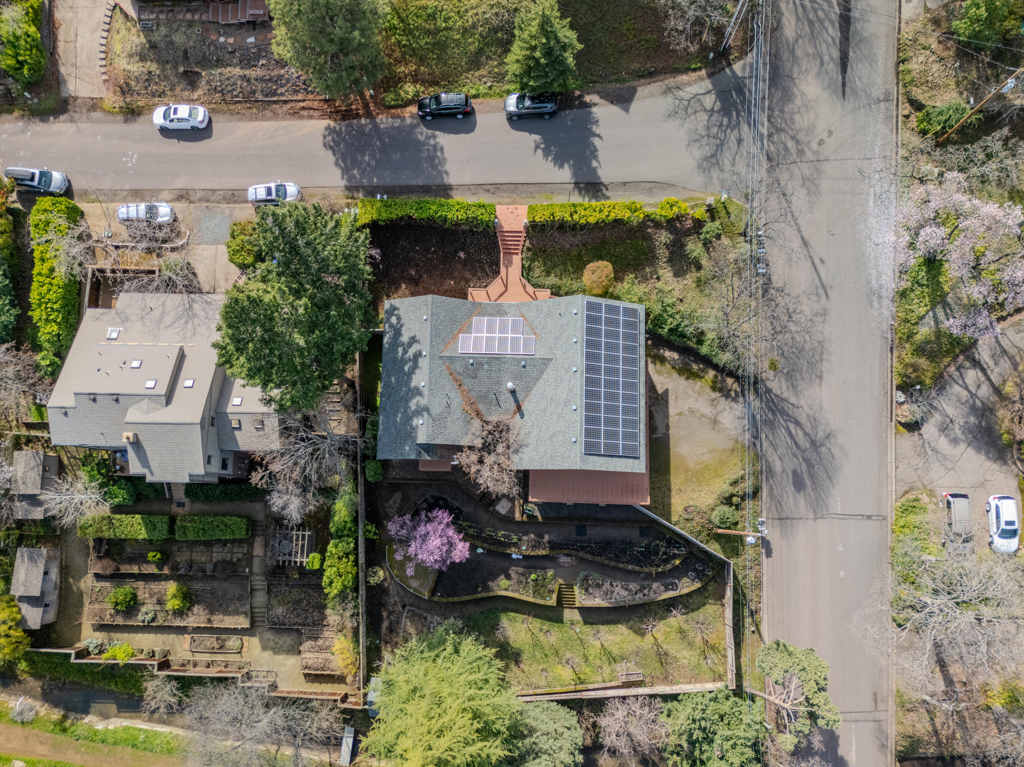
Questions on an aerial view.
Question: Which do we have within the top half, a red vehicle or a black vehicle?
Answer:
black vehicle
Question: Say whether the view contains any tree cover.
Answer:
Yes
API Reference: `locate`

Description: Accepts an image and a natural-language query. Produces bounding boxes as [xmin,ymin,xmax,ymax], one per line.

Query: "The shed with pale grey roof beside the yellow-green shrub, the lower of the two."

[10,548,66,629]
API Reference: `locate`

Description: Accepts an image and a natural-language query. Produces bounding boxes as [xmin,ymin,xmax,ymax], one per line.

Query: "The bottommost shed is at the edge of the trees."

[367,674,389,717]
